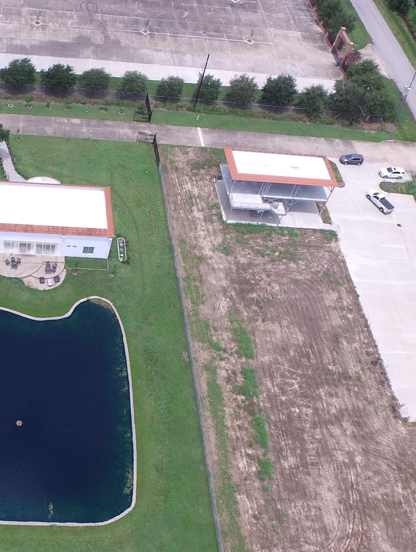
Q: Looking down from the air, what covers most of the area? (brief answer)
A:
paved ground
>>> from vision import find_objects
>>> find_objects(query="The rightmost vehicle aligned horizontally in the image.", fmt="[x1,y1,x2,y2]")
[378,165,409,179]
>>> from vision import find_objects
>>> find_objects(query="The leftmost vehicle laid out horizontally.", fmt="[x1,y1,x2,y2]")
[338,151,368,165]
